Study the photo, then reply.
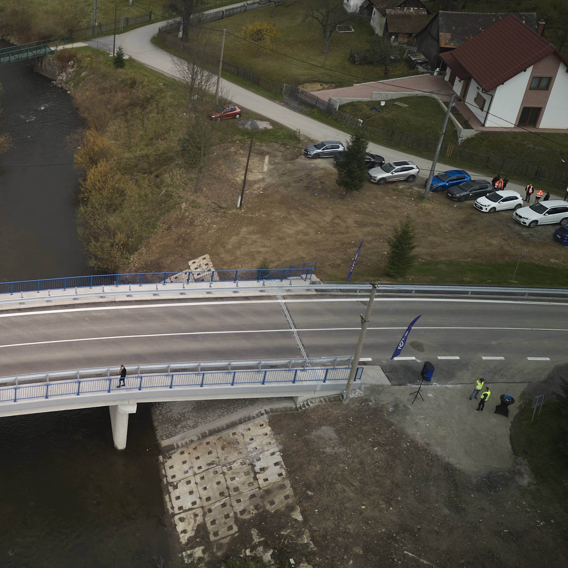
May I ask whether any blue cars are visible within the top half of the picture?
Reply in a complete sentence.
Yes, a blue car appears within the top half of the picture.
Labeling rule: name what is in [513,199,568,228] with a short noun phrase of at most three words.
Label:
car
